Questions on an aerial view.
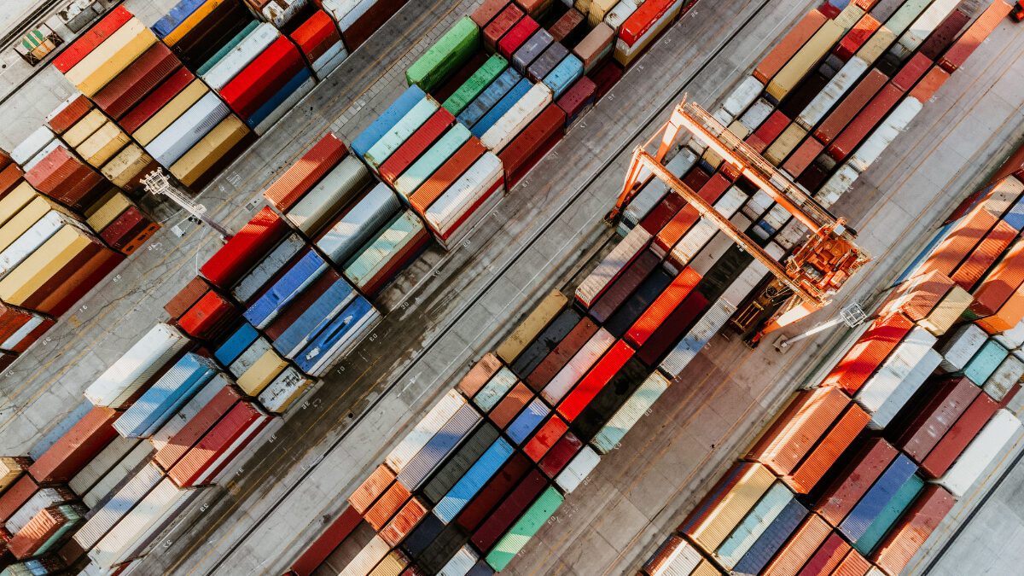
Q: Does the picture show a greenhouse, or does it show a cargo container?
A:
cargo container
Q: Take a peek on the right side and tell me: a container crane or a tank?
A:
container crane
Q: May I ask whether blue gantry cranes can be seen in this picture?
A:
No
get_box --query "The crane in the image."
[602,84,882,356]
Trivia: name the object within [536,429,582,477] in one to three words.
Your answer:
shipping container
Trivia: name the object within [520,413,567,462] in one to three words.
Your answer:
shipping container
